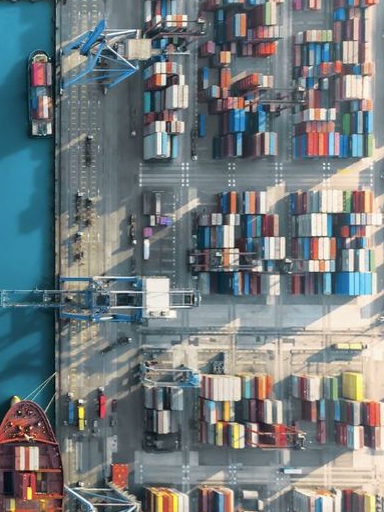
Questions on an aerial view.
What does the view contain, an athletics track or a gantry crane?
gantry crane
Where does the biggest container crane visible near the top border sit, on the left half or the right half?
left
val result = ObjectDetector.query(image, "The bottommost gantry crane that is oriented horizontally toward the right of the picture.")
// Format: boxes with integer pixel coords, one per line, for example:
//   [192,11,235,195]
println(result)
[241,426,301,448]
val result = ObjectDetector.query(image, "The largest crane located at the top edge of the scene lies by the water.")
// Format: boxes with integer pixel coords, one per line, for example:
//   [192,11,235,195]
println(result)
[61,18,167,94]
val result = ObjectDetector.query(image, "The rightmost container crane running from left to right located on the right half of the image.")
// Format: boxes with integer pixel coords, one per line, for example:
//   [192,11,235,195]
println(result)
[286,254,364,274]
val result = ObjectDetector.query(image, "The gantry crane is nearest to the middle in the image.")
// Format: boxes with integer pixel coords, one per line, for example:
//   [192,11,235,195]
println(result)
[191,253,261,274]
